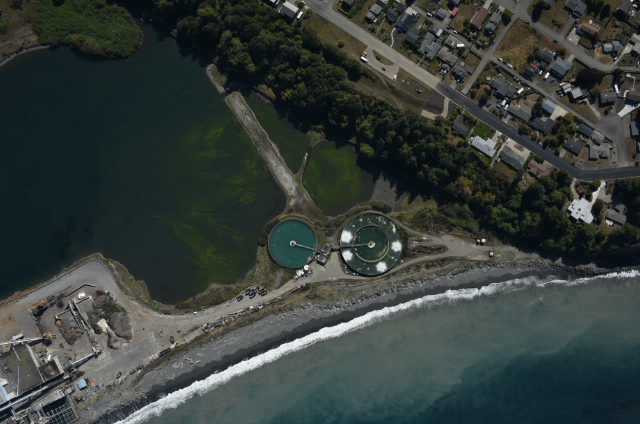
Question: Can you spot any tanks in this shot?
Yes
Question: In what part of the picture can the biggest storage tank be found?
center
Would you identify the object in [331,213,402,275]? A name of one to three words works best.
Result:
storage tank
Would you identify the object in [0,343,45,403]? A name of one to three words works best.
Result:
building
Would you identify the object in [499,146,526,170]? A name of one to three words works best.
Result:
house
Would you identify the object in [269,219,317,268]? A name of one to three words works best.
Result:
storage tank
